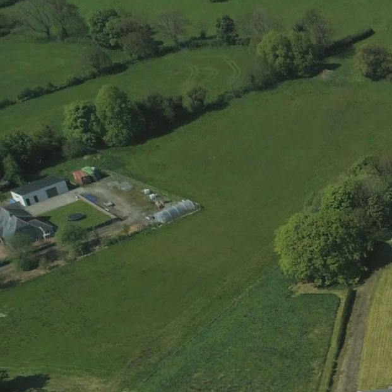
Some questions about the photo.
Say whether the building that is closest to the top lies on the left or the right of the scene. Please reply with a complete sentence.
The building that is closest to the top appears in the left half of the scene.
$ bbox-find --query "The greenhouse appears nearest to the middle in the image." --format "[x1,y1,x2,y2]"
[146,194,197,223]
